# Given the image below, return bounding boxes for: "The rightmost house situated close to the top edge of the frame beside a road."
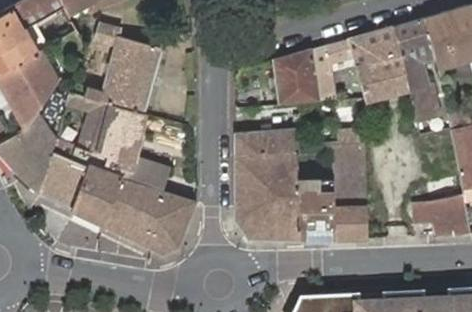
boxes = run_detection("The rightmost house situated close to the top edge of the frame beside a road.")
[426,6,472,76]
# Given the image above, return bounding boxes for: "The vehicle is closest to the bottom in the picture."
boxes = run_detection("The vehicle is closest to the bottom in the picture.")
[248,272,270,285]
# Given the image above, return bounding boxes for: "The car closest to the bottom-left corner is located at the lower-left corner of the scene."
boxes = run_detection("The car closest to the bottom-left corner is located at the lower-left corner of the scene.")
[52,256,75,268]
